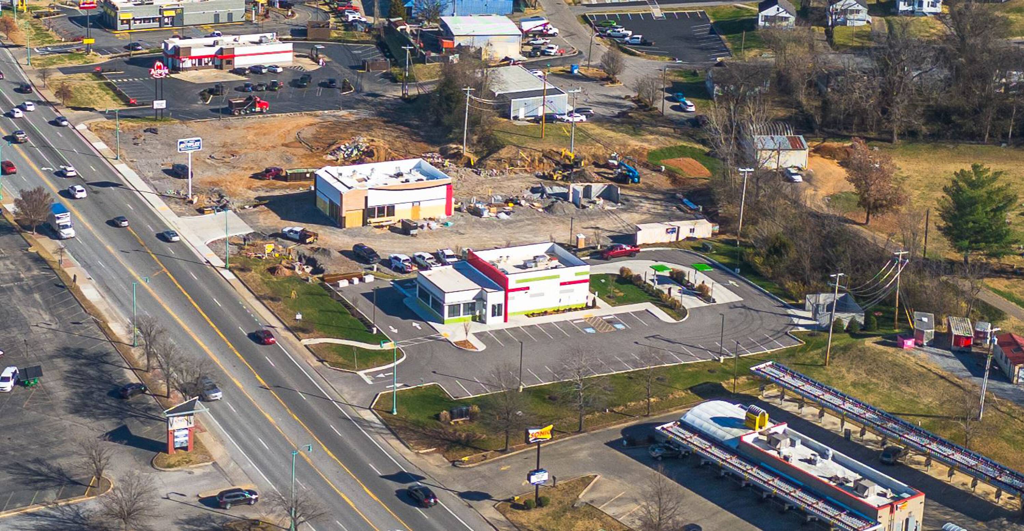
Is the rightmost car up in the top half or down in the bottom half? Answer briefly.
bottom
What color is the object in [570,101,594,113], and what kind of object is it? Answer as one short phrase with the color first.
gray vehicle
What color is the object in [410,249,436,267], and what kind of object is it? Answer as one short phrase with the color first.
white vehicle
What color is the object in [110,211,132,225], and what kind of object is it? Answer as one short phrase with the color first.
gray car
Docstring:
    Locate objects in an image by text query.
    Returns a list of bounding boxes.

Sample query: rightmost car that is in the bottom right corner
[878,440,908,465]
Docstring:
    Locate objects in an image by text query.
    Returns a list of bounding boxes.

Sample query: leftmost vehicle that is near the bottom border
[217,485,261,507]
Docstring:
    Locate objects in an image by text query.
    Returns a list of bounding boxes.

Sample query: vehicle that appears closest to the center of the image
[434,245,459,263]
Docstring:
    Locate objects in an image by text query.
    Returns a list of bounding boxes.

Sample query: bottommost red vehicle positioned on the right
[603,242,641,258]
